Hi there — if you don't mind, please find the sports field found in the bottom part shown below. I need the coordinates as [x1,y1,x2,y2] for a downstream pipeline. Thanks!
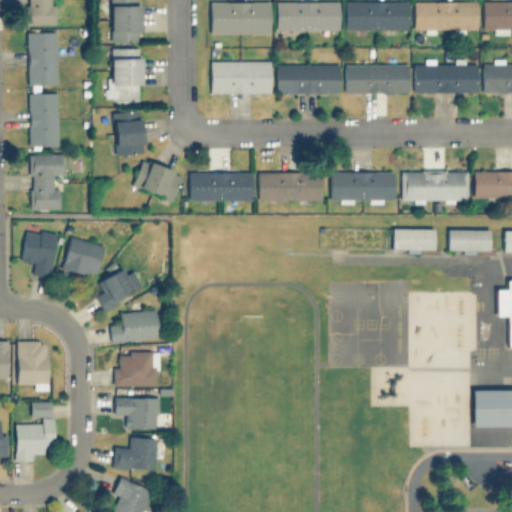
[188,286,316,512]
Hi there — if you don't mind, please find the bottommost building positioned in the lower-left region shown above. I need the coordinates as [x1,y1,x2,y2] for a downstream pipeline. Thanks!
[110,476,156,512]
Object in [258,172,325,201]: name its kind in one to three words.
house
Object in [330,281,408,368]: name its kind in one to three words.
sports court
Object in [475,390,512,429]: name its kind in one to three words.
building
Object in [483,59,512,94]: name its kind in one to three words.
house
